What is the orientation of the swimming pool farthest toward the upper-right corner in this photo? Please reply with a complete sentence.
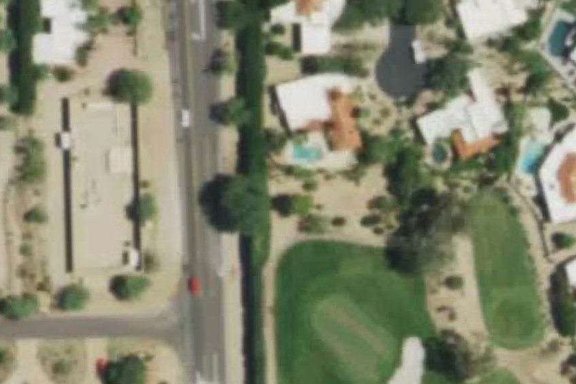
What the image shows is the swimming pool farthest toward the upper-right corner lying from top to bottom.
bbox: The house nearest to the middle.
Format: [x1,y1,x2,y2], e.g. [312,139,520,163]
[277,73,360,151]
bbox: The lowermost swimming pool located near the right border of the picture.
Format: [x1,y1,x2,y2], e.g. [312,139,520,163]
[520,140,547,176]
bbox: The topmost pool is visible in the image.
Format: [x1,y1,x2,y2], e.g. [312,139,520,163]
[549,20,570,58]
